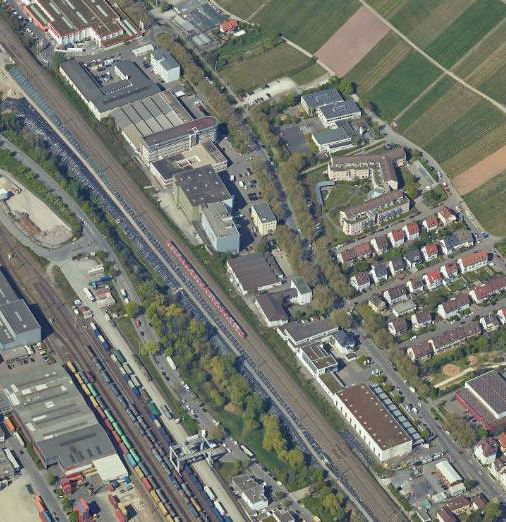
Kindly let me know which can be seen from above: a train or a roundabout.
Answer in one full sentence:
It is a train that can be seen here.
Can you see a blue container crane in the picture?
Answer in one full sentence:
No, no blue container crane can be seen from above.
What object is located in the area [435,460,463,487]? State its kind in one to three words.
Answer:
shed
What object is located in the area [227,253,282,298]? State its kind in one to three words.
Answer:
building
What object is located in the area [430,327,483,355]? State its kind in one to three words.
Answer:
house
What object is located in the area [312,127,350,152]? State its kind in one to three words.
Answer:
building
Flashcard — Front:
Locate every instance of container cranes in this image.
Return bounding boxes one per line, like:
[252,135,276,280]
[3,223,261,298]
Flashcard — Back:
[167,432,230,475]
